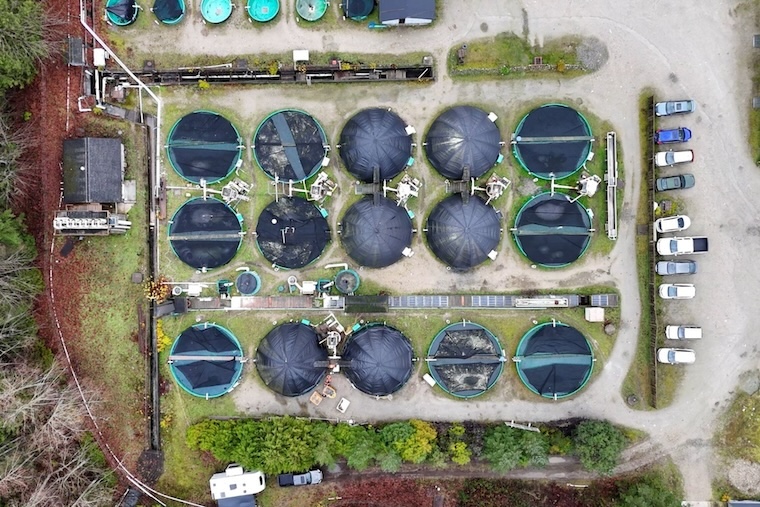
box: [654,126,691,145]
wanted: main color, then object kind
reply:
blue car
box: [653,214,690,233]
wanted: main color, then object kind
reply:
white car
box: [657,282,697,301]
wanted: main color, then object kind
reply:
white car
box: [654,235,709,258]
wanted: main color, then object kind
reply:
white truck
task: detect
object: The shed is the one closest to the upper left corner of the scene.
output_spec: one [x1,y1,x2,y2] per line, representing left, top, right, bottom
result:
[65,34,85,66]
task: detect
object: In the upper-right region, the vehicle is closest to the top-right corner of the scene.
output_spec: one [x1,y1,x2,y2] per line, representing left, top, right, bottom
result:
[653,98,695,117]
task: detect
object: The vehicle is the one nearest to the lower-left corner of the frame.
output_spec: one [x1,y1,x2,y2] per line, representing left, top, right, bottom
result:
[211,462,275,507]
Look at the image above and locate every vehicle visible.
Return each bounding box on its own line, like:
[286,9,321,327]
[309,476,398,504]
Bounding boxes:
[654,235,709,258]
[653,98,695,117]
[654,126,691,145]
[663,324,706,341]
[654,148,695,168]
[655,172,695,192]
[653,214,690,233]
[654,259,698,277]
[657,282,697,301]
[656,347,697,366]
[278,467,324,489]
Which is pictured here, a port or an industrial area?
industrial area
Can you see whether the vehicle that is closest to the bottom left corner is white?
Yes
